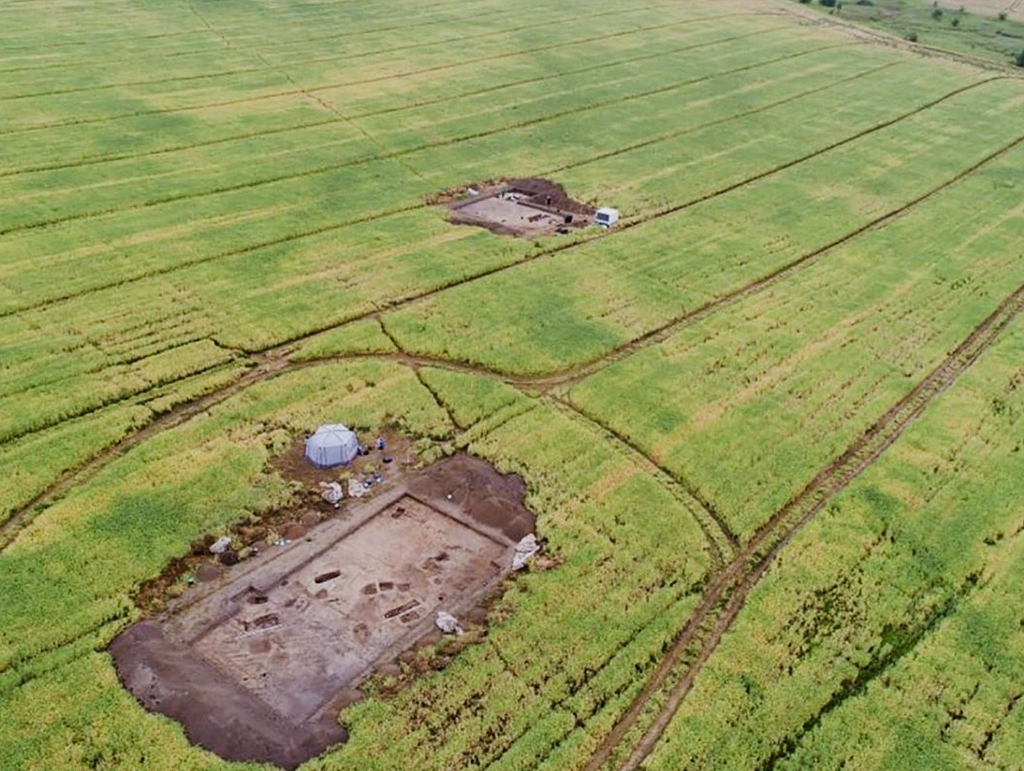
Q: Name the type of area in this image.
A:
farmland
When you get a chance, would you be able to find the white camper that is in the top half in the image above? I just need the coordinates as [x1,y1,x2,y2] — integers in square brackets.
[599,205,624,224]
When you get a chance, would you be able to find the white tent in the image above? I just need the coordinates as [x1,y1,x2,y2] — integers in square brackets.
[303,425,360,471]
